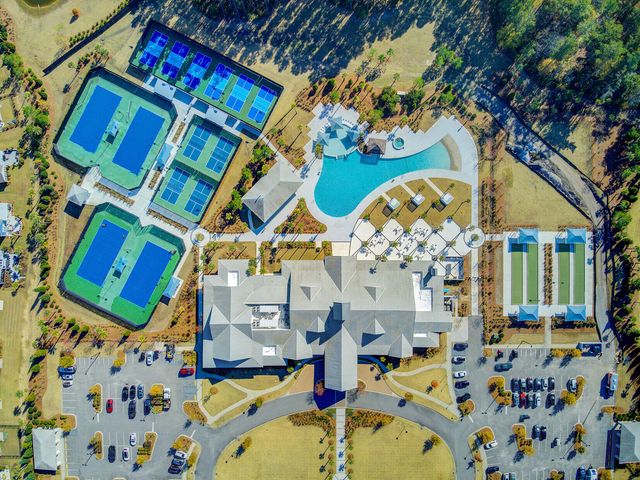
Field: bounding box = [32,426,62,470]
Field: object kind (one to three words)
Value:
building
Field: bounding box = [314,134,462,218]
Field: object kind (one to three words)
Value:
swimming pool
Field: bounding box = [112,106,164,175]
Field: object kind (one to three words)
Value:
tennis court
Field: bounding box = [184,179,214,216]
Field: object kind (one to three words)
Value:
sports court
